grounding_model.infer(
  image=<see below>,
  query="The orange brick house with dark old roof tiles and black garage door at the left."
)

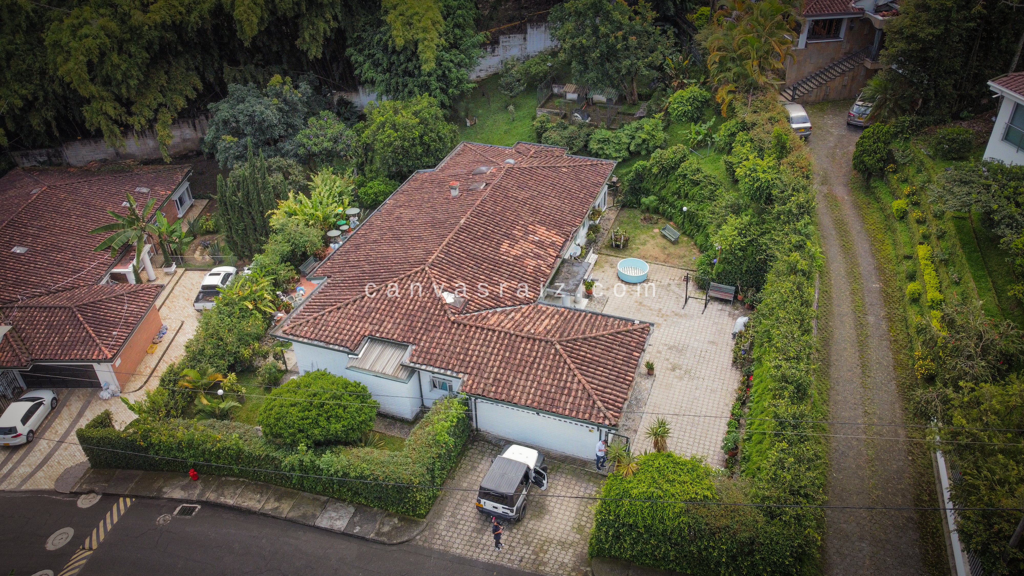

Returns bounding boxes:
[0,167,201,399]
